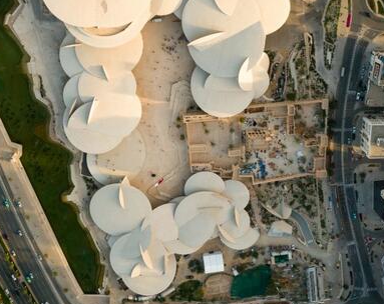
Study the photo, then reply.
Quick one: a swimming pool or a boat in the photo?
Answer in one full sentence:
Of the two, only a swimming pool appears.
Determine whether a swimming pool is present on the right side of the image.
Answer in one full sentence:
Yes, a swimming pool is visible on the right side of the image.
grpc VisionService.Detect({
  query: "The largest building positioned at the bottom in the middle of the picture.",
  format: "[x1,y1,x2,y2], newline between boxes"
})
[91,167,260,292]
